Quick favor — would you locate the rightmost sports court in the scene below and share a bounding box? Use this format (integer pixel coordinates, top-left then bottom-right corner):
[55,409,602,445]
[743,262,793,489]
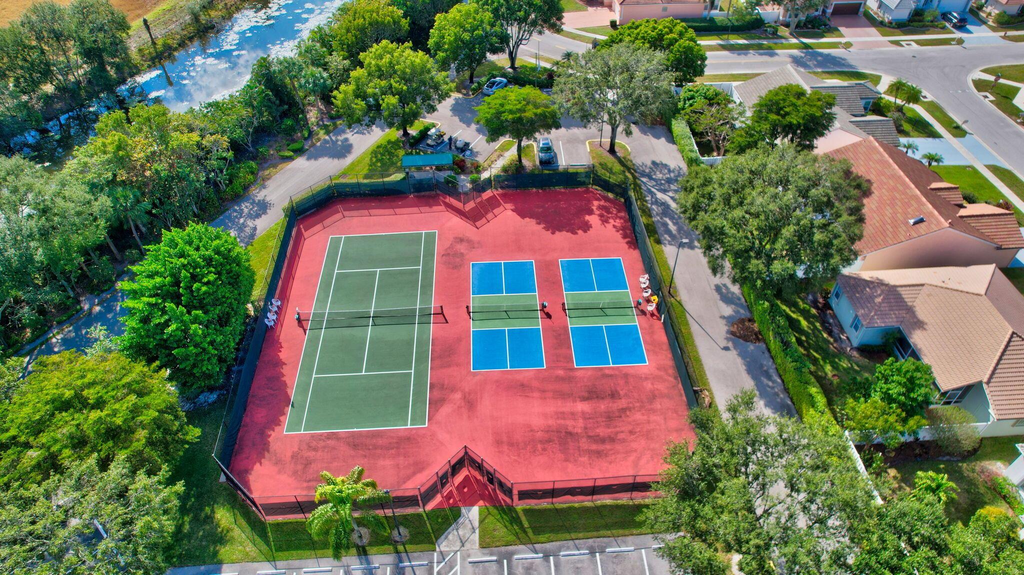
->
[559,257,648,367]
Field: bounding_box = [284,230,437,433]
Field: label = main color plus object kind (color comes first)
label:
green tennis court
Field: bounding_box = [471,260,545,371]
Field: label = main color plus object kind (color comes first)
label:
blue sports court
